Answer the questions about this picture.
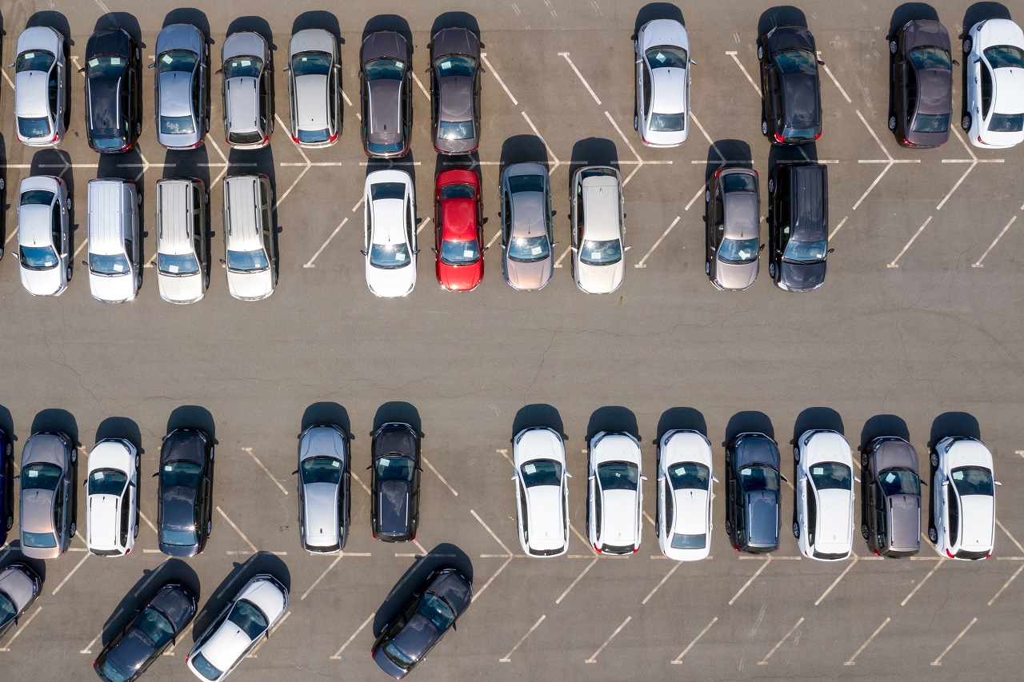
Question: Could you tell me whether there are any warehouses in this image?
No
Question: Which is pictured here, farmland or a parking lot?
parking lot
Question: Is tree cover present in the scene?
No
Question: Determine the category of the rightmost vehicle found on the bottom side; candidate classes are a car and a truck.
car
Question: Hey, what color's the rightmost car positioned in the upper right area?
white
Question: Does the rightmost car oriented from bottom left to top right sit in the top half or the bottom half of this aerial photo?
bottom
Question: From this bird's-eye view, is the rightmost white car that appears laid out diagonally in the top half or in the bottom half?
bottom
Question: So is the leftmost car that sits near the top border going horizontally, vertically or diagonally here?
vertically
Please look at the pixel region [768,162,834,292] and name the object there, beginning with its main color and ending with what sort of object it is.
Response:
black van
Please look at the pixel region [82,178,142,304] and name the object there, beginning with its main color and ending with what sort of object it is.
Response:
white van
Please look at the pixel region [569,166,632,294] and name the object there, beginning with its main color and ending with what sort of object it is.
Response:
white car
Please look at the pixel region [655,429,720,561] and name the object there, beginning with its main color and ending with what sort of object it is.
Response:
white car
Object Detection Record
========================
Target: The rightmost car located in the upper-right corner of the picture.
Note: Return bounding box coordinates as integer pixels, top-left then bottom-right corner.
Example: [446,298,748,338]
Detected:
[961,19,1024,149]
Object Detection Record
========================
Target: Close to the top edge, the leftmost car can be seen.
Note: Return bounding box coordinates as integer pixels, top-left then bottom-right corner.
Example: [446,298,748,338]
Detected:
[8,26,68,146]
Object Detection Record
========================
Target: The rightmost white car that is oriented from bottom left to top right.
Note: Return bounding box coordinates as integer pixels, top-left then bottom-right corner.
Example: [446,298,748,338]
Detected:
[185,573,284,682]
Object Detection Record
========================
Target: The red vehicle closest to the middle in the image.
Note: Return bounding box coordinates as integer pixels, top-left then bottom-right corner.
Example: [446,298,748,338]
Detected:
[430,169,489,292]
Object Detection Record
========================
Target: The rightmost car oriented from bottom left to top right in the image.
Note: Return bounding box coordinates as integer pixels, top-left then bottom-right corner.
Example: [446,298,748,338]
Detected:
[371,566,470,682]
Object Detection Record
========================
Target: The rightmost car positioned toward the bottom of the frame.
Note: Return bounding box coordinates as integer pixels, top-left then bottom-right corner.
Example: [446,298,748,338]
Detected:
[929,437,1000,560]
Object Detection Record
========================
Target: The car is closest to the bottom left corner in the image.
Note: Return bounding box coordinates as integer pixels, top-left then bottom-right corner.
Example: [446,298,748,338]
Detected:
[0,562,44,651]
